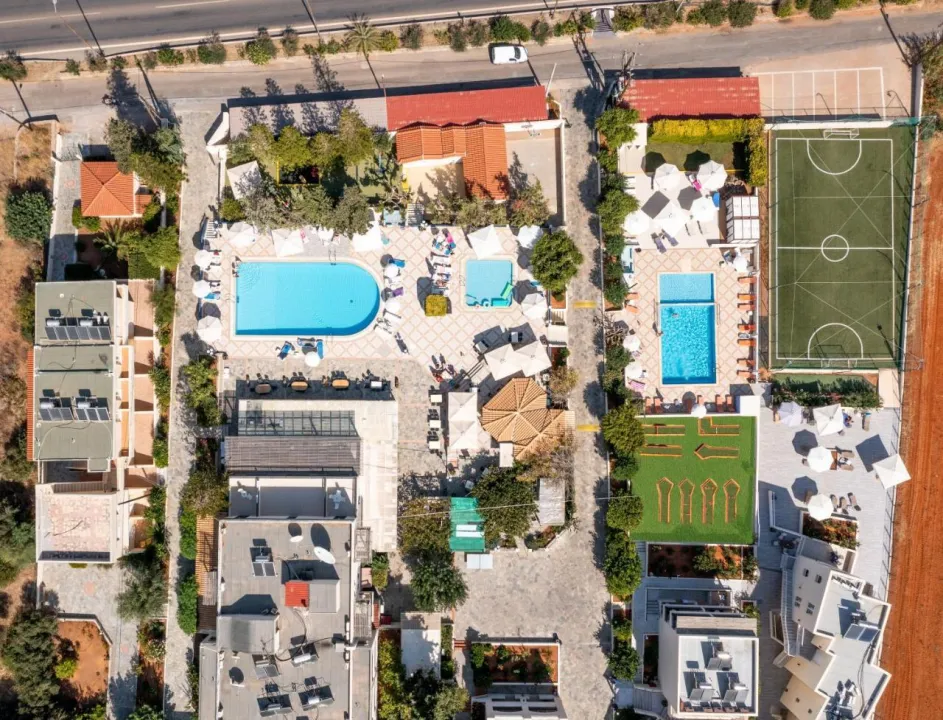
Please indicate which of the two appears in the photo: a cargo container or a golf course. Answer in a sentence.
The one in the frame is a golf course.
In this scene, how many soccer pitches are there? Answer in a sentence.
The photo contains exactly 1 soccer pitch.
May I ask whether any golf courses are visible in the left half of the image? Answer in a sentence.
No, no golf course can be made out in the left half of the image.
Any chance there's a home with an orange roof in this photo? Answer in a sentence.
Yes, a home with an orange roof appears in the view.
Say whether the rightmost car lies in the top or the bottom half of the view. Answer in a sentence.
The top half of the photo is where the rightmost car is.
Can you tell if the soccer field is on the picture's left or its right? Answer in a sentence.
The soccer field is on the right side of the image.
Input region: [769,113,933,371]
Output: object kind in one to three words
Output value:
soccer field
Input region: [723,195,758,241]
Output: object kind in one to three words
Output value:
building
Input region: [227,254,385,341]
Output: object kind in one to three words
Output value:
swimming pool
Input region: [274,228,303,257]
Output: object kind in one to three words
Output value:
umbrella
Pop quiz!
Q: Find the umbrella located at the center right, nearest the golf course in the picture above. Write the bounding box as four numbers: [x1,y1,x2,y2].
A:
[690,401,705,418]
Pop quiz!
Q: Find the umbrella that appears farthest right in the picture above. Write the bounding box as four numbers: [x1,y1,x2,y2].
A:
[871,451,912,492]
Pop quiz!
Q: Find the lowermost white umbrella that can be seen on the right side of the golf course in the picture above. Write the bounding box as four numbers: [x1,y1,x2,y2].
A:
[805,493,832,519]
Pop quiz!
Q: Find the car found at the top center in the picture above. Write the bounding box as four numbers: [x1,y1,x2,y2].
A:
[491,41,528,63]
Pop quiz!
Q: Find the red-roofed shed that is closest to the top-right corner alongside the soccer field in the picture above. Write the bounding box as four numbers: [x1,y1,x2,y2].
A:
[626,77,760,128]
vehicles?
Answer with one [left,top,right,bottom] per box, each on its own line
[491,41,528,63]
[99,93,114,103]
